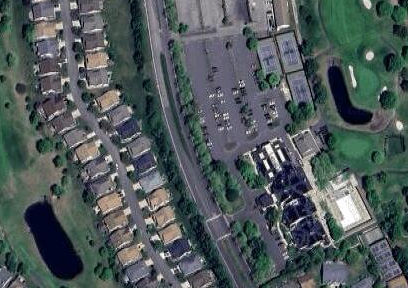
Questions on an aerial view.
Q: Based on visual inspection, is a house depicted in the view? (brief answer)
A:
Yes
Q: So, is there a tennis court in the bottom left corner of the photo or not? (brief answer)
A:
No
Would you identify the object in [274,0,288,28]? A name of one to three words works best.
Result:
shed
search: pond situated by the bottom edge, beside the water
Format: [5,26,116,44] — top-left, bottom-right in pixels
[25,200,83,279]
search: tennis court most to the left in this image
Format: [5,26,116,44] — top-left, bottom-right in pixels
[257,35,283,73]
